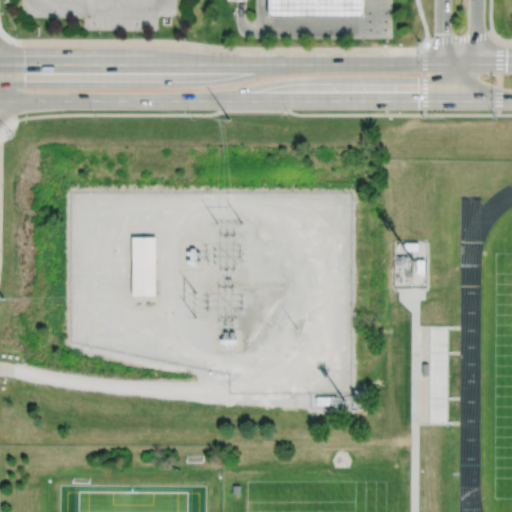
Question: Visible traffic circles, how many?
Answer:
0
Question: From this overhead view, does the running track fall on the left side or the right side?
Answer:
right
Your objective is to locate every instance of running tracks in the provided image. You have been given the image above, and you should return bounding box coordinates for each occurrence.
[462,180,512,512]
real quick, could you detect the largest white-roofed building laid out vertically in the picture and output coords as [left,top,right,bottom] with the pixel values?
[132,238,156,298]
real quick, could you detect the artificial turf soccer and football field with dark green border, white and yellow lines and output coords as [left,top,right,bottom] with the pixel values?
[61,486,208,512]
